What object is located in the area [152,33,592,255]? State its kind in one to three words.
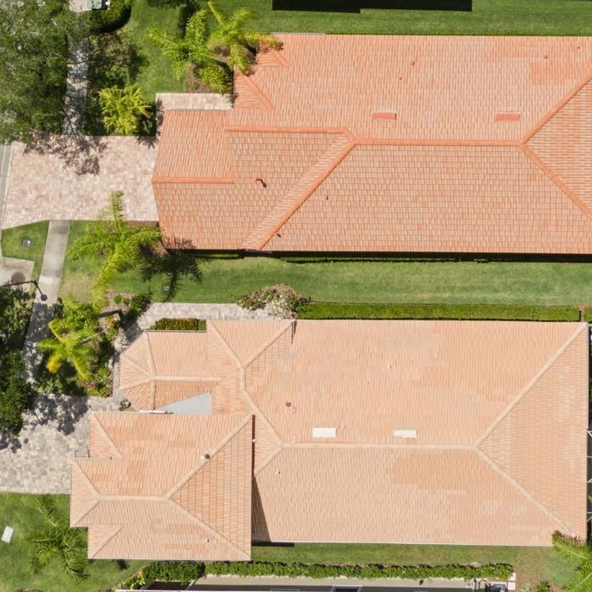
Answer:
house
